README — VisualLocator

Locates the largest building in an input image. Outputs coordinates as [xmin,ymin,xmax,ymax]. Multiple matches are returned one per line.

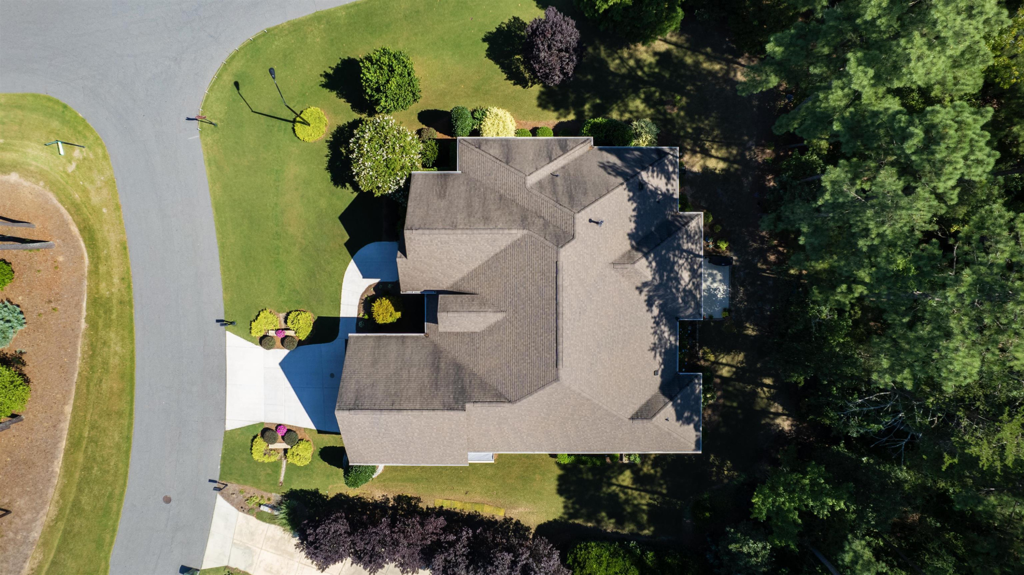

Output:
[335,135,706,468]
